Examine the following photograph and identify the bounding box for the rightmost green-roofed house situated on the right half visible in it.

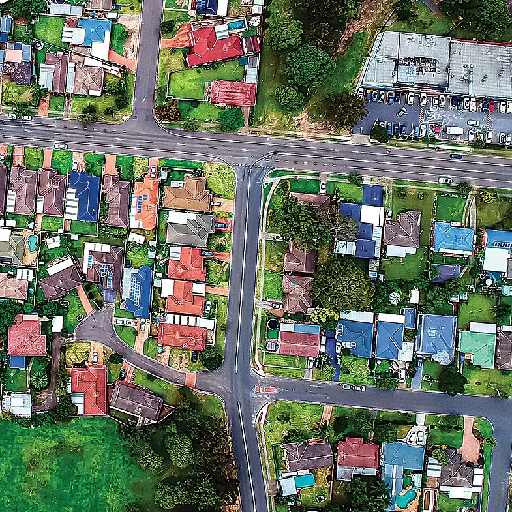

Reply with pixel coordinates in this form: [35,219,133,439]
[456,322,497,366]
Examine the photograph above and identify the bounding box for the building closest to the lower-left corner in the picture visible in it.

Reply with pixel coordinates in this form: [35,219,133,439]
[1,391,31,418]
